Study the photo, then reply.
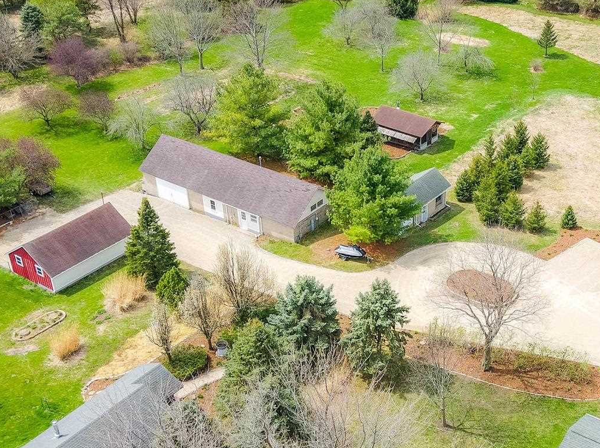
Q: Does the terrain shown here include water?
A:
No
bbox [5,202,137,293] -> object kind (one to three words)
building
